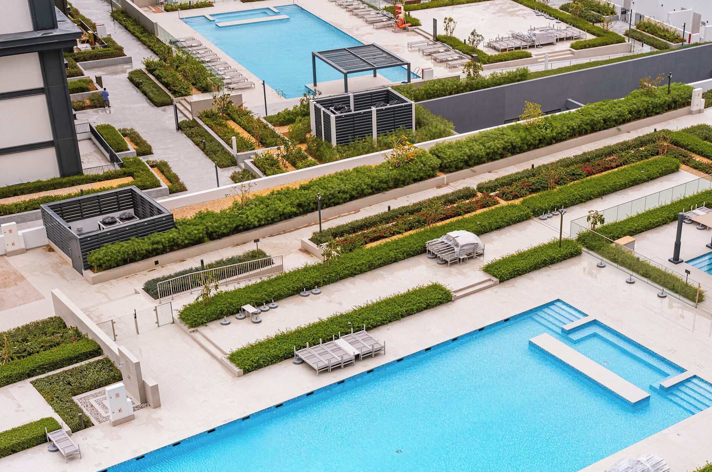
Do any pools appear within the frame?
Yes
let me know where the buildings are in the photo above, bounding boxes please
[609,0,712,40]
[0,0,84,189]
